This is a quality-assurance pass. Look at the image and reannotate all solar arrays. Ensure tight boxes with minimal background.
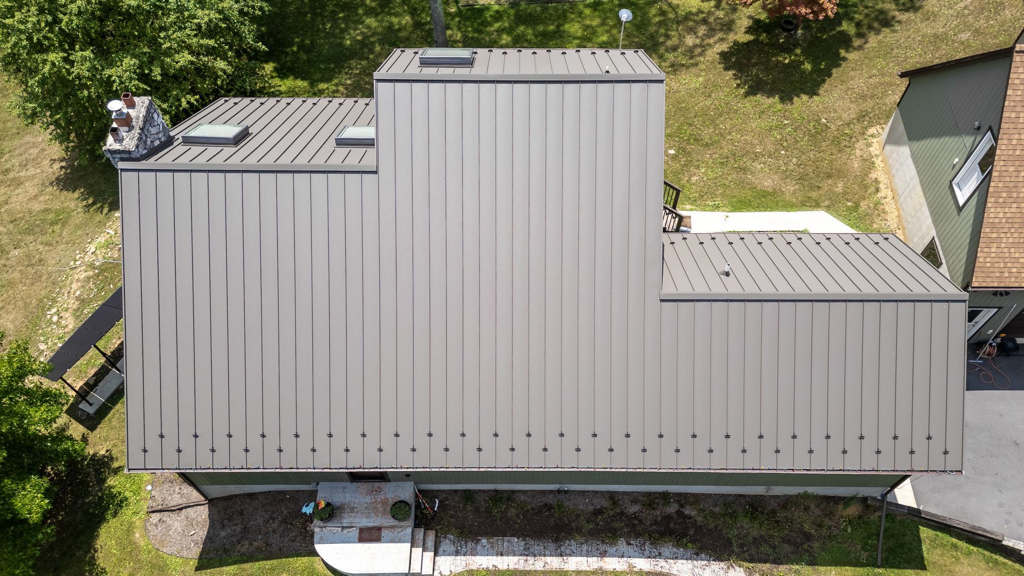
[38,283,122,406]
